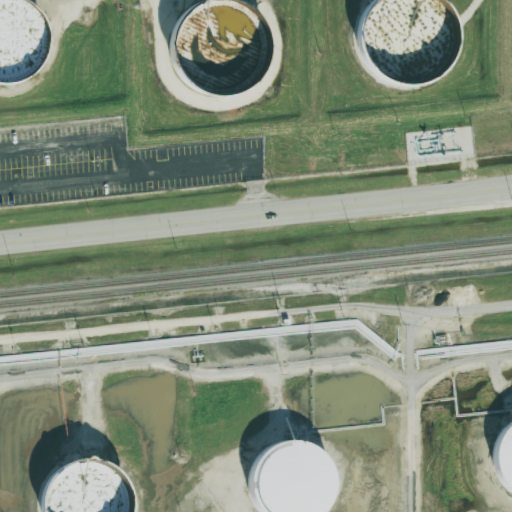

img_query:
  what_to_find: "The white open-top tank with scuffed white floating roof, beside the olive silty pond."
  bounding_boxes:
[38,456,138,512]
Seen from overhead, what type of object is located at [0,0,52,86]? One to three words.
storage tank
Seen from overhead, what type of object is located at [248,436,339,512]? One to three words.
storage tank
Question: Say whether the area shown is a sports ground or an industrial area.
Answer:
industrial area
